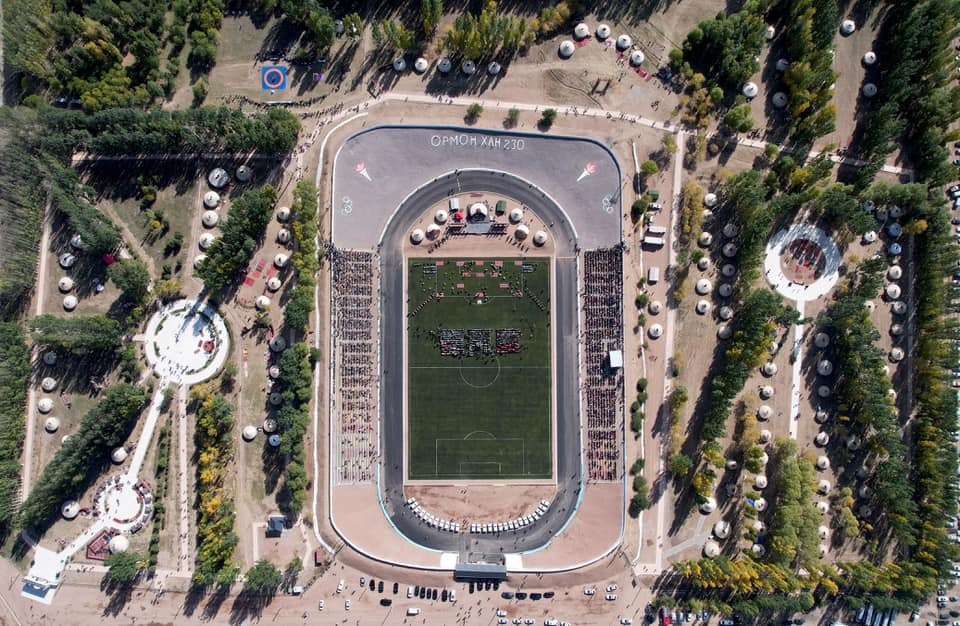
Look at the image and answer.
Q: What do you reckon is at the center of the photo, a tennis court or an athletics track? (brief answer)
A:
athletics track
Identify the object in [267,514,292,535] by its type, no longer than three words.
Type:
house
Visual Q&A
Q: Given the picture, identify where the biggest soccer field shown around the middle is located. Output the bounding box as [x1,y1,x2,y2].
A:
[405,254,556,485]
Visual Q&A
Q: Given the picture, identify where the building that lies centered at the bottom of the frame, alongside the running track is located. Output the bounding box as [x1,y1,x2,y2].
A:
[456,560,505,579]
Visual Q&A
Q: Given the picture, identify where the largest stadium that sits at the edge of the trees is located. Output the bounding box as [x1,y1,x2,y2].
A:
[330,125,626,574]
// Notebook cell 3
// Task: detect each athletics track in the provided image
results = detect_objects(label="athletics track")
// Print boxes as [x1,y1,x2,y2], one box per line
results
[381,171,578,553]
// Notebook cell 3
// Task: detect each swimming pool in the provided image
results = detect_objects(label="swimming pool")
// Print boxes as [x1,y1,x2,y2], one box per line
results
[23,584,46,598]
